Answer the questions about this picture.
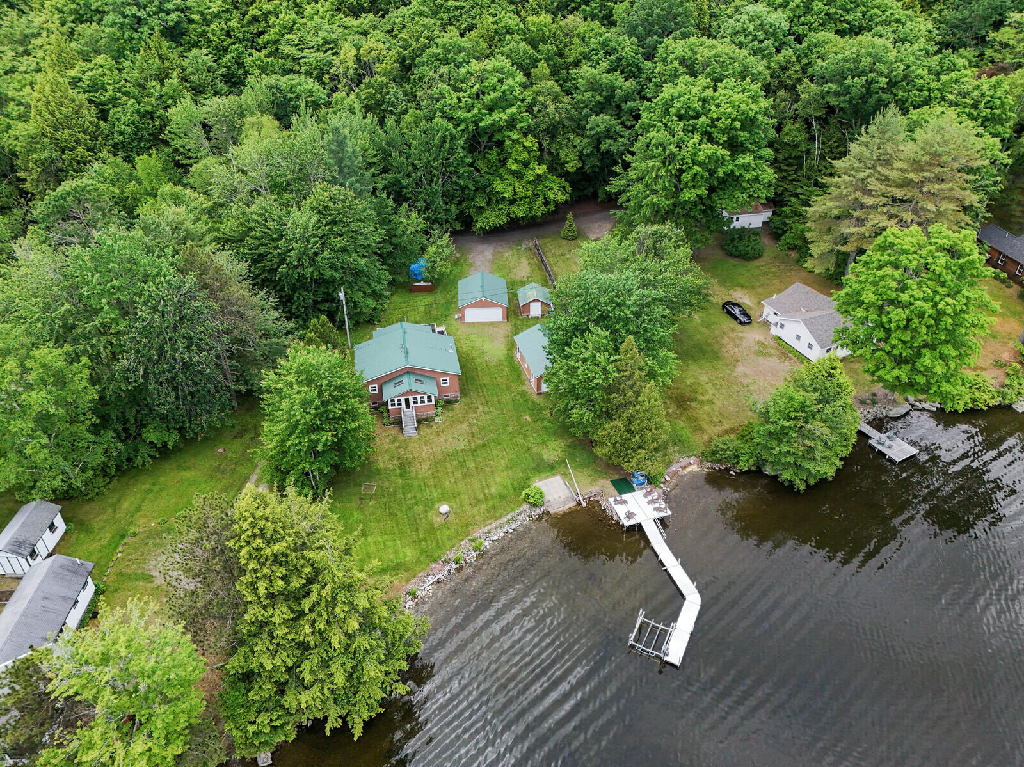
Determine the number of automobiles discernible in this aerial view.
1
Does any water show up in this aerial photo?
Yes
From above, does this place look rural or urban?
rural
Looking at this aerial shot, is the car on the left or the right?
right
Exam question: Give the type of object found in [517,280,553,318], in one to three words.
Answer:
shed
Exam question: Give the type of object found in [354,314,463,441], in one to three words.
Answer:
house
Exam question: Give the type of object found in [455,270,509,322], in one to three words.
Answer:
building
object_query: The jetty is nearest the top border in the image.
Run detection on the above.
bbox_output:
[859,422,919,466]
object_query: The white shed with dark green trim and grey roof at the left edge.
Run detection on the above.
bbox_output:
[0,496,59,581]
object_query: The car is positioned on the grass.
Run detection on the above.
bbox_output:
[719,300,757,323]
